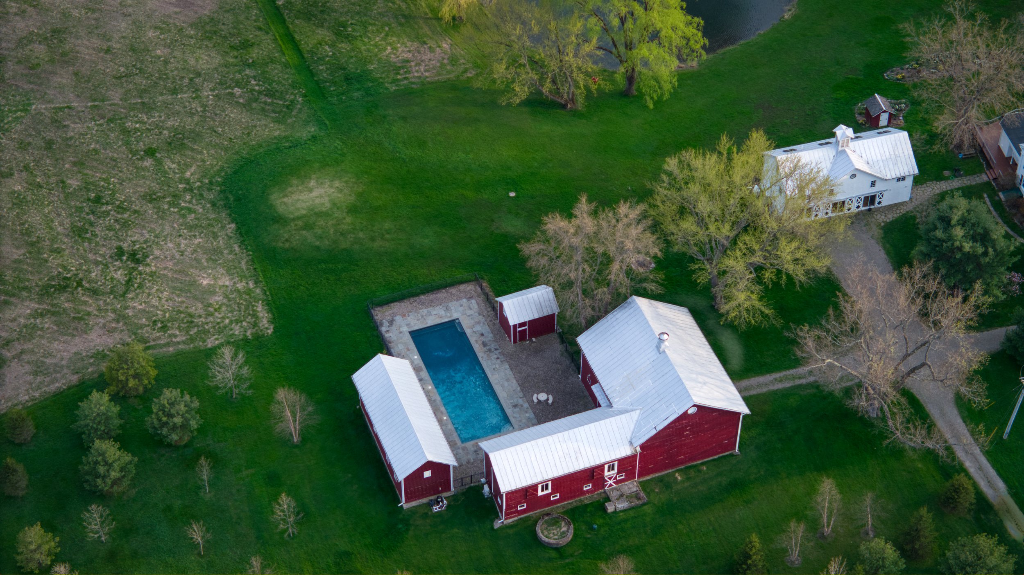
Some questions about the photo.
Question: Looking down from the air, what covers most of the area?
grass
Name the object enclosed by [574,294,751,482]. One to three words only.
barn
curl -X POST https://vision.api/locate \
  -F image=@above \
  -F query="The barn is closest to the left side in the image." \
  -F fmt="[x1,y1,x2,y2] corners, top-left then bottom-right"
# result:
[351,353,459,514]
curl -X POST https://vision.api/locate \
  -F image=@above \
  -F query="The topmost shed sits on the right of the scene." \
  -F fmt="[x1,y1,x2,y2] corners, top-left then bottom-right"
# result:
[865,90,896,126]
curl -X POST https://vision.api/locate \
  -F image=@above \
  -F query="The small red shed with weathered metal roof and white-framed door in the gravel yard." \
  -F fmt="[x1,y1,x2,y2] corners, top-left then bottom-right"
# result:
[496,286,560,346]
